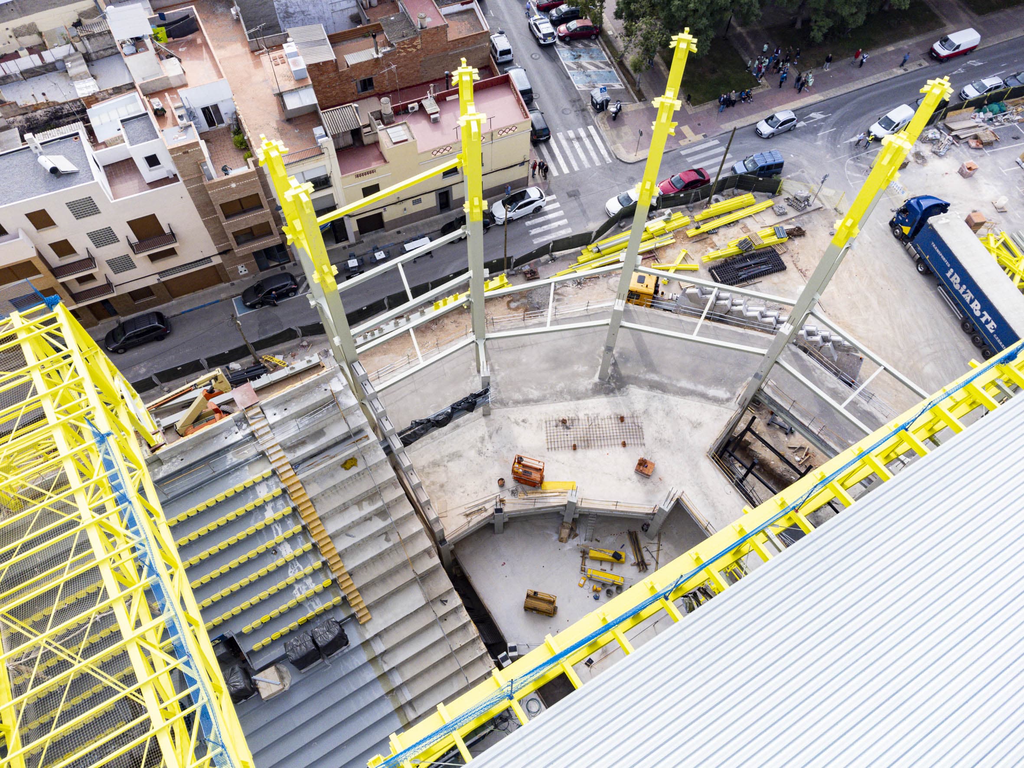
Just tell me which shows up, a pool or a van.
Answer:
van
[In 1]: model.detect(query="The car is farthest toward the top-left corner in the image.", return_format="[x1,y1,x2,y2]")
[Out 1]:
[98,304,177,355]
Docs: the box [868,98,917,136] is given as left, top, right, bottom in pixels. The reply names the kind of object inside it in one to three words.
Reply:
van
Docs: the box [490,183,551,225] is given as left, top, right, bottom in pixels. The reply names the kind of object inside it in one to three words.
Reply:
car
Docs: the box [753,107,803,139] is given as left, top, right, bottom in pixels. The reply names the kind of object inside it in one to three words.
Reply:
car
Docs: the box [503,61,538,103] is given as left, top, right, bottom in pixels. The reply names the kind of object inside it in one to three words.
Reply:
van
